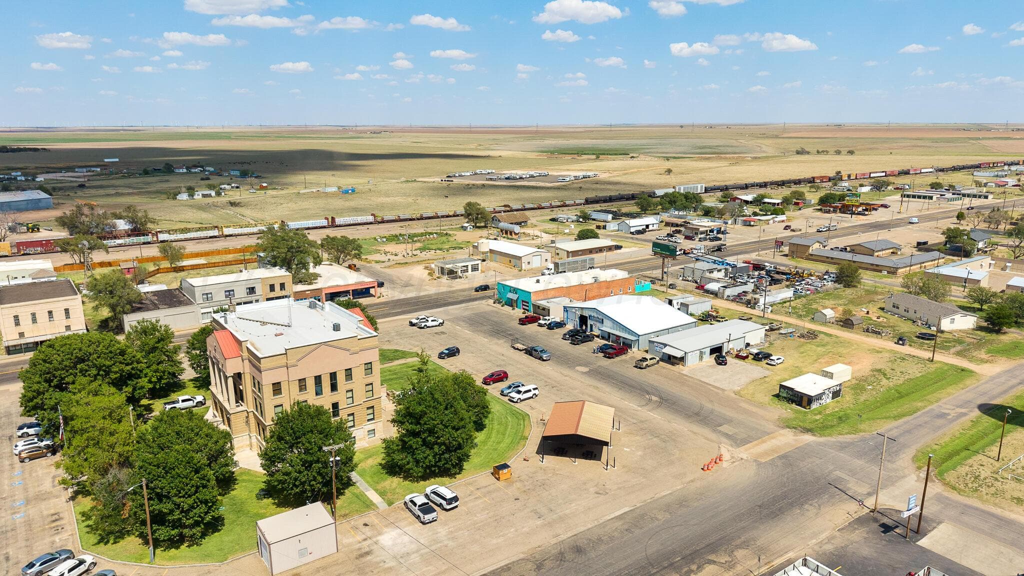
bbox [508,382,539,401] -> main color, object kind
white car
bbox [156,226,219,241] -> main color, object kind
white rail car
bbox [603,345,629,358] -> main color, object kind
red vehicle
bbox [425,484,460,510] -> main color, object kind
white car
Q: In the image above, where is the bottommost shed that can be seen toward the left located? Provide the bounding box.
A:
[252,502,338,576]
